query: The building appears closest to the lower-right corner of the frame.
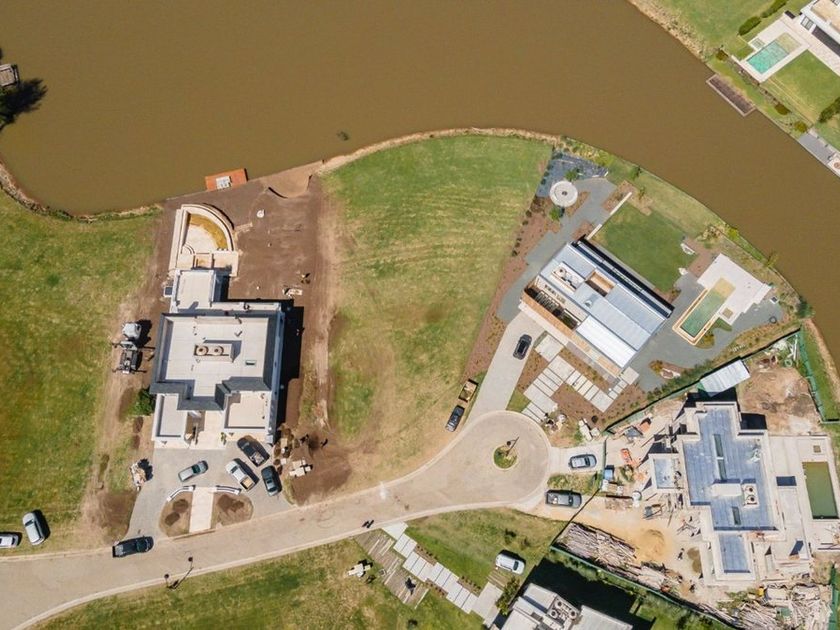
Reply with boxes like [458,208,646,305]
[641,402,786,583]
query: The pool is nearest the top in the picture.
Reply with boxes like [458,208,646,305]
[741,16,809,81]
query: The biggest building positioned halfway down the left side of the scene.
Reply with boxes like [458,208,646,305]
[149,269,286,449]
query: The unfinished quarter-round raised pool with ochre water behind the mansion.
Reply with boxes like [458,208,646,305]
[170,203,240,278]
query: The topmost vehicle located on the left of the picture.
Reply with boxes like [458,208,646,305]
[112,320,155,373]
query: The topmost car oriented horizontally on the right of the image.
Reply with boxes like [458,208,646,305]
[567,454,597,469]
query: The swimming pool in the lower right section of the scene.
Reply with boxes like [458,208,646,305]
[802,462,836,518]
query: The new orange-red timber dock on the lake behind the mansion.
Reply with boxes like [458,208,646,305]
[206,168,248,190]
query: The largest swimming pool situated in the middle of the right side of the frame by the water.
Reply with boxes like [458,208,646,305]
[673,253,771,340]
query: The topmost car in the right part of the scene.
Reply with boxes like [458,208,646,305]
[514,333,532,361]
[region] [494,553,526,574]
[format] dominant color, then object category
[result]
white car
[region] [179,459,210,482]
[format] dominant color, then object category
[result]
gray car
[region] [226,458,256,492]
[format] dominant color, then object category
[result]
white truck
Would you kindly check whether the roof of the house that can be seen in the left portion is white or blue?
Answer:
white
